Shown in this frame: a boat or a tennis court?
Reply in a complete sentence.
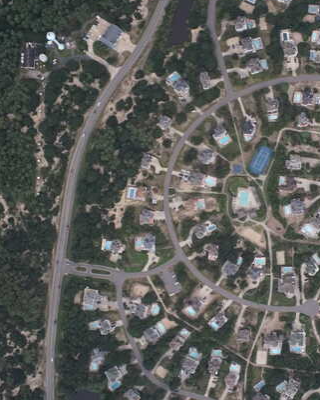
Of the two, only a tennis court appears.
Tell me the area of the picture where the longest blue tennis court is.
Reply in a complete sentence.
The longest blue tennis court is located in the right region of the scene.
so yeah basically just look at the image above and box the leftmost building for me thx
[20,47,35,68]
